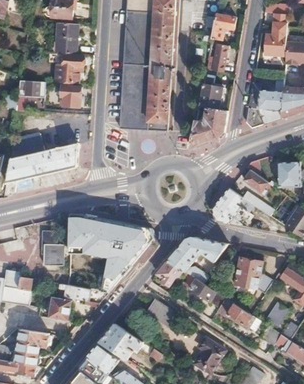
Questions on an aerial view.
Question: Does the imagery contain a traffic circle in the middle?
Yes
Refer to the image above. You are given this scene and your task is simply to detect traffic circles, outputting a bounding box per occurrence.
[128,156,224,226]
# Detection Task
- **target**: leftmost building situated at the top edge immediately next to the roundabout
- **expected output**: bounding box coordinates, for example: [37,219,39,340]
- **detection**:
[120,0,150,130]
